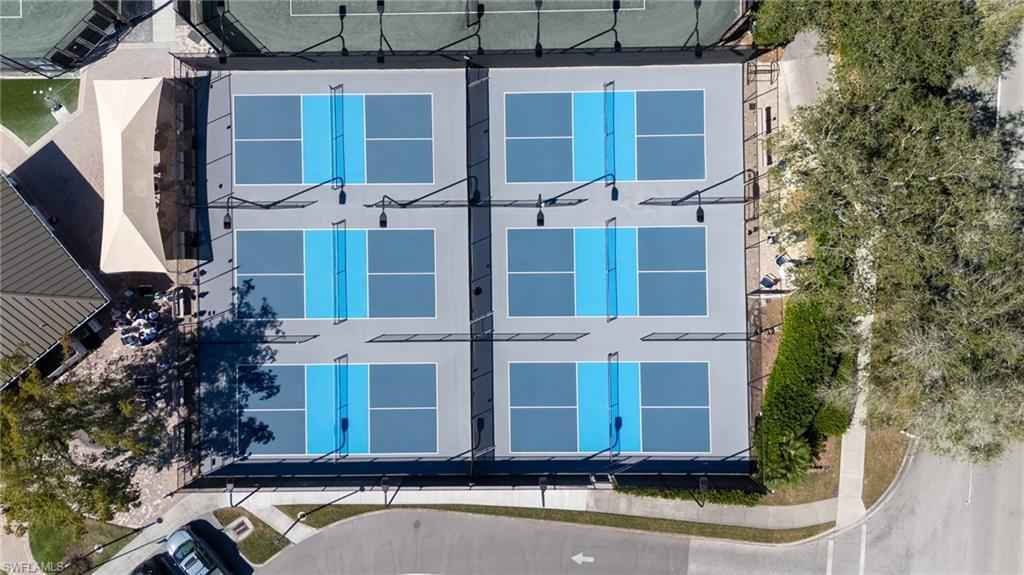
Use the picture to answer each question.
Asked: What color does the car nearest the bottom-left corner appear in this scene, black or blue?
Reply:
black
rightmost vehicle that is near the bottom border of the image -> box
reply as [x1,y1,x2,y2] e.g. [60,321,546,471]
[167,527,228,575]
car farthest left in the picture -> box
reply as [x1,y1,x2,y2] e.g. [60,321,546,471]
[134,555,174,575]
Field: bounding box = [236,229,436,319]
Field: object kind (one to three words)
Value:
sports court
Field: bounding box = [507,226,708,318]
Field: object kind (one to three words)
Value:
sports court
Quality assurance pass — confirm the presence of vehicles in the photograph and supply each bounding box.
[167,527,228,575]
[134,555,174,575]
